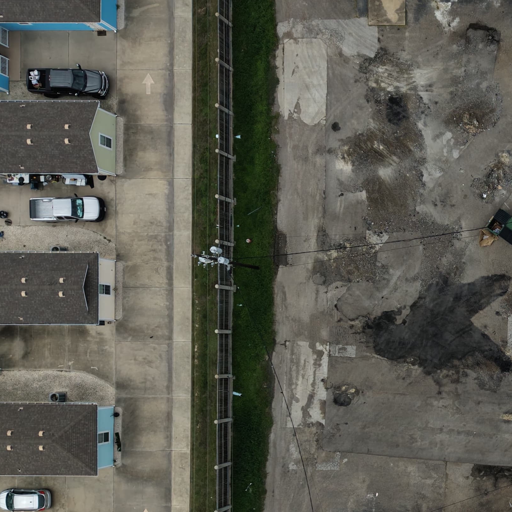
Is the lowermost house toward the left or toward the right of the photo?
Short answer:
left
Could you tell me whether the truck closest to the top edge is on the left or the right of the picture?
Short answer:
left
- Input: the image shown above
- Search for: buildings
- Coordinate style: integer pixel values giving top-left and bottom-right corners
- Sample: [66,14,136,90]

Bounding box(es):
[0,399,115,476]
[0,98,117,175]
[0,249,117,326]
[0,0,117,94]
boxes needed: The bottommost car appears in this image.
[0,482,53,512]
